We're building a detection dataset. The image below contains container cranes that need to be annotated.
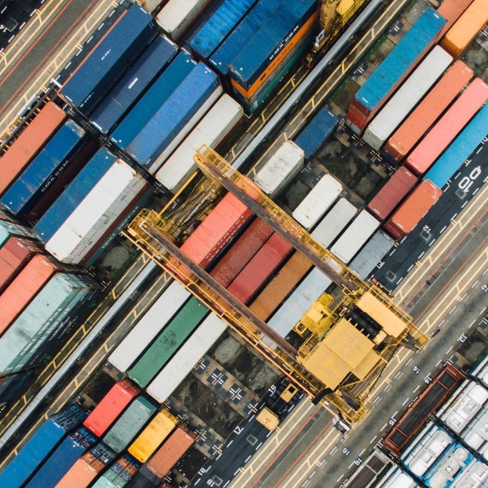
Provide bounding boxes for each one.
[121,137,438,433]
[302,0,367,66]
